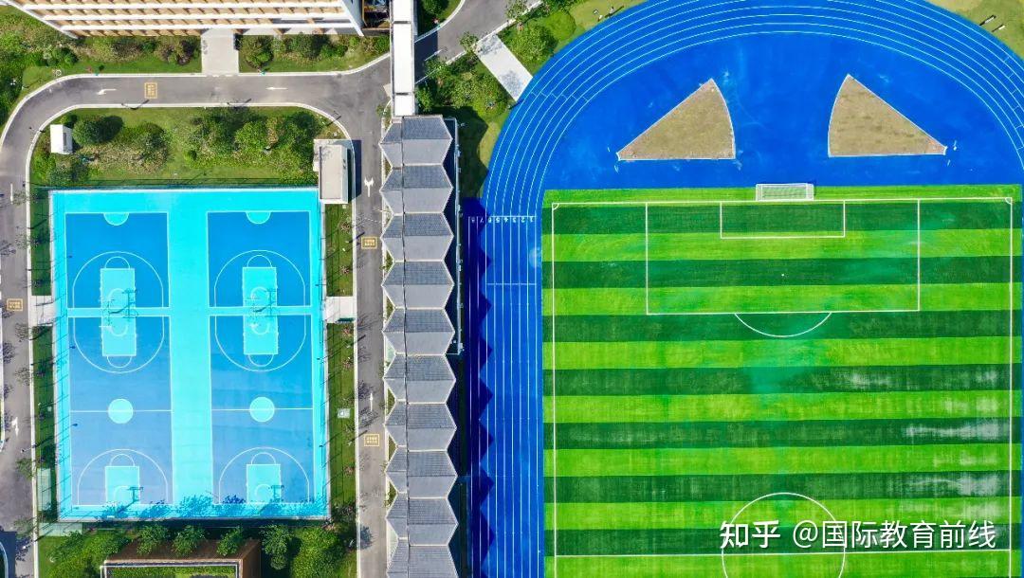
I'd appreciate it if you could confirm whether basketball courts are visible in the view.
Yes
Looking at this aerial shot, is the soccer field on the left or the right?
right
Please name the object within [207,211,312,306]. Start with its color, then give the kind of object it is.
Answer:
blue basketball court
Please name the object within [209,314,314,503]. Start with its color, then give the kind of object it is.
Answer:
blue basketball court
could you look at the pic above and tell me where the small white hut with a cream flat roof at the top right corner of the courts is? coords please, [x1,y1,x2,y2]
[319,144,349,206]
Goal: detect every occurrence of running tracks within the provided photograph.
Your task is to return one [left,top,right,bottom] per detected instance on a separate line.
[462,0,1024,578]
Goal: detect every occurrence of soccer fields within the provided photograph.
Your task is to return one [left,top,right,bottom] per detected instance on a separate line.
[542,185,1022,578]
